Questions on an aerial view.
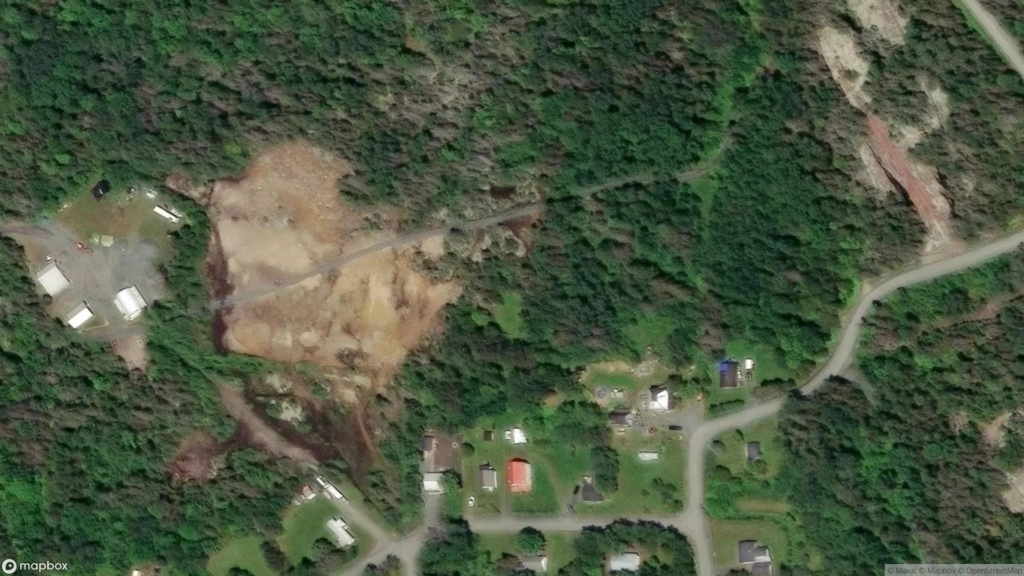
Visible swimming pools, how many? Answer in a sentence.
Not a single swimming pool can be seen.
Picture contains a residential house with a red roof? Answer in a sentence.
Yes, there's a residential house with a red roof down there.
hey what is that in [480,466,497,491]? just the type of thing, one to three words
house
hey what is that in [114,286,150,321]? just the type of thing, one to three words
barn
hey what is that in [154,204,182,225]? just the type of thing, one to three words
camper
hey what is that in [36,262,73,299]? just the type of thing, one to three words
building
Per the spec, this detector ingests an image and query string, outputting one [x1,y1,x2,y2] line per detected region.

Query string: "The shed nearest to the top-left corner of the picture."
[91,180,113,203]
